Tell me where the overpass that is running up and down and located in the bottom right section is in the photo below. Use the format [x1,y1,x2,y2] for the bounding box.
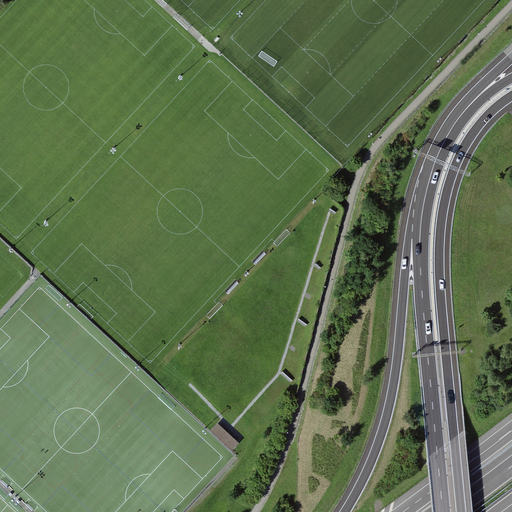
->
[424,410,474,512]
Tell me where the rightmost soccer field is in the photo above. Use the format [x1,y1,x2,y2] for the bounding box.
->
[226,0,488,152]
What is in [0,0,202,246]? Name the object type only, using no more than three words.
soccer field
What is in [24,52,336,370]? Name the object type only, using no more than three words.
soccer field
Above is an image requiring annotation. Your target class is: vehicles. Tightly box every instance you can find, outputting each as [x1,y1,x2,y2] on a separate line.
[448,390,454,402]
[426,322,431,334]
[416,243,420,255]
[439,279,444,290]
[482,116,491,125]
[402,258,407,269]
[432,172,439,184]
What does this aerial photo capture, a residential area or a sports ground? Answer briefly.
sports ground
